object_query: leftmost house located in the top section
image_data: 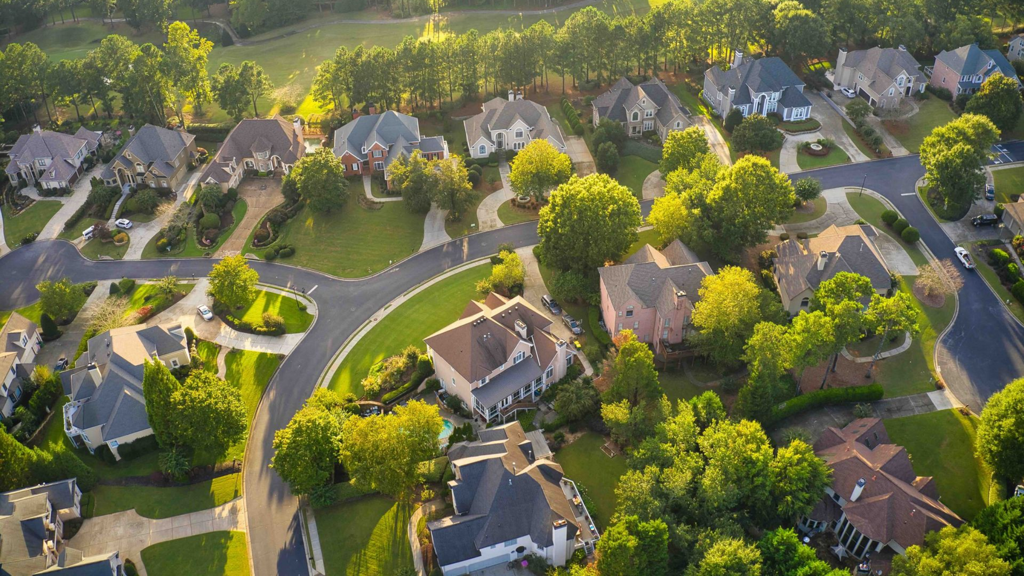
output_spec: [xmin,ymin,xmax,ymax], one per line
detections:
[6,125,109,194]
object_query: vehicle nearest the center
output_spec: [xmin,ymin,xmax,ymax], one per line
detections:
[541,291,563,314]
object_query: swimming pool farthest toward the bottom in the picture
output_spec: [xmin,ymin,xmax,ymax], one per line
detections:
[415,417,454,449]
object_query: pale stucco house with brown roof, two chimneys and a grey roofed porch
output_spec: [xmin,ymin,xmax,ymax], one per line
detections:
[420,281,576,422]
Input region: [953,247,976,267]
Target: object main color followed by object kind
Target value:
white vehicle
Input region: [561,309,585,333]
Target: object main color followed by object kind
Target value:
gray car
